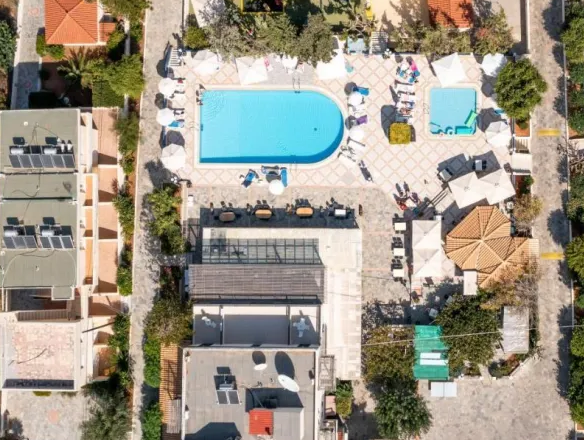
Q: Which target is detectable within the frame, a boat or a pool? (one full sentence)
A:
Visible in the photo is a pool.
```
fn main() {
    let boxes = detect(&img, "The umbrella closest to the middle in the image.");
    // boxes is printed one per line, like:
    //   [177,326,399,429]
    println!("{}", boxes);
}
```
[270,179,286,195]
